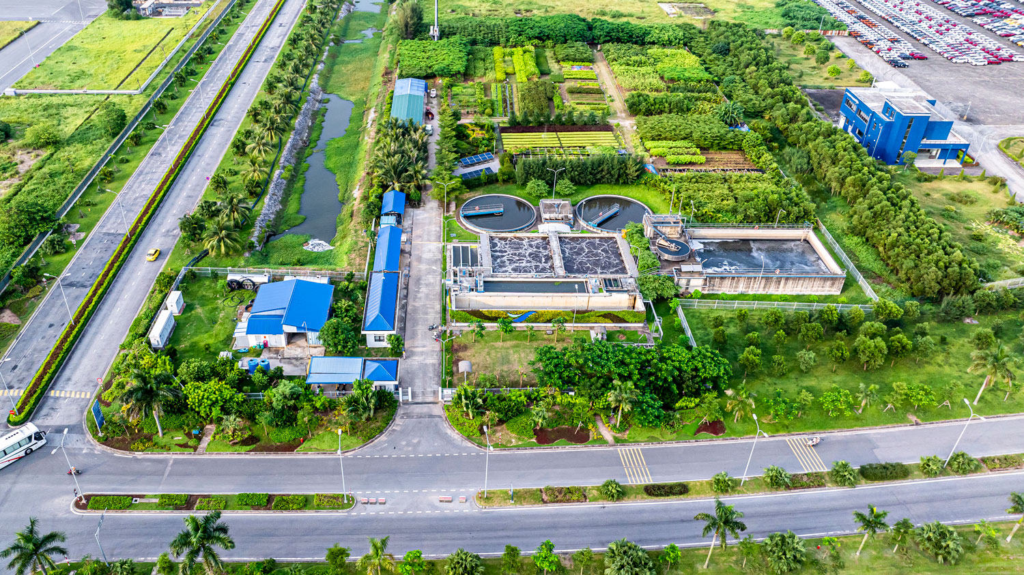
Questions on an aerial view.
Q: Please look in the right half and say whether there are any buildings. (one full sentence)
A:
Yes, a building shows up in the right half.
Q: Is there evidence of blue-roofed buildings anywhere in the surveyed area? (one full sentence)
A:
Yes, this view includes a blue-roofed building.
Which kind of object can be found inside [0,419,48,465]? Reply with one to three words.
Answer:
bus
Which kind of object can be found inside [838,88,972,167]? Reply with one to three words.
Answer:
building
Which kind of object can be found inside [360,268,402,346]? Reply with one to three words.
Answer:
house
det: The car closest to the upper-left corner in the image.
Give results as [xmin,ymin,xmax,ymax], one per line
[143,245,161,259]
